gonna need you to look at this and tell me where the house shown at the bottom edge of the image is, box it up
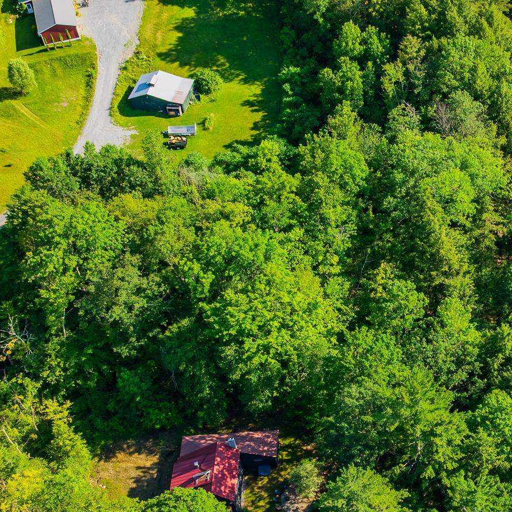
[173,428,278,512]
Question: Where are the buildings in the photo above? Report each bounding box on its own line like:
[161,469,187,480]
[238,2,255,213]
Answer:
[173,428,278,512]
[128,68,201,114]
[12,0,81,44]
